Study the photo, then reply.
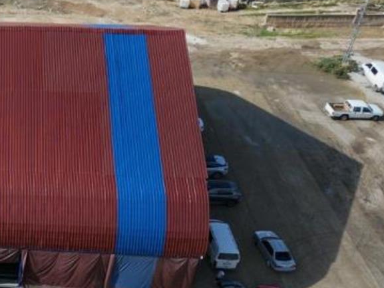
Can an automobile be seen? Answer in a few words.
Yes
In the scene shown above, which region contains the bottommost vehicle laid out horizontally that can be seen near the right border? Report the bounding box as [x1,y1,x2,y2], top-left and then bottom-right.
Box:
[325,100,384,123]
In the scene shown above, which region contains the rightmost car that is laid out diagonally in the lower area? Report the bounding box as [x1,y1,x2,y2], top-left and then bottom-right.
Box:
[251,231,301,270]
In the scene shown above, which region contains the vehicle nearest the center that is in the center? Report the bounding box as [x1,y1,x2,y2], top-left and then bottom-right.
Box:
[207,157,228,180]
